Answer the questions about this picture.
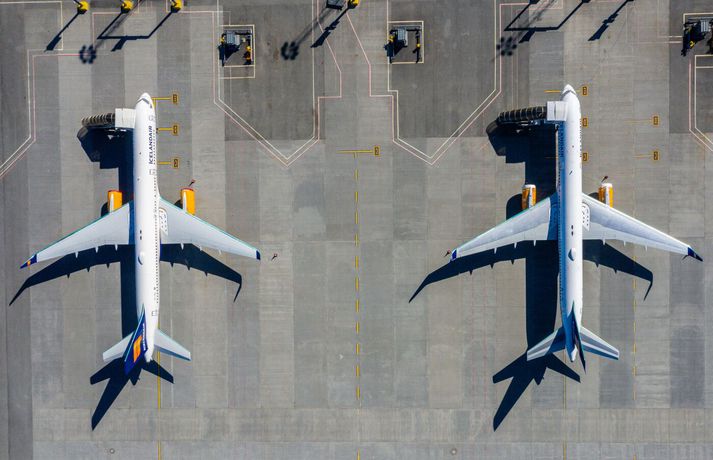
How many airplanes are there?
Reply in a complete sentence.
The number of airplanes here is 2.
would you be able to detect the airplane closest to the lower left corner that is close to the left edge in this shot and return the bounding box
[20,92,260,375]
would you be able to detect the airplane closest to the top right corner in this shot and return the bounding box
[451,84,704,373]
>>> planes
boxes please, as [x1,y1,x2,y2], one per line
[20,92,260,375]
[451,84,704,373]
